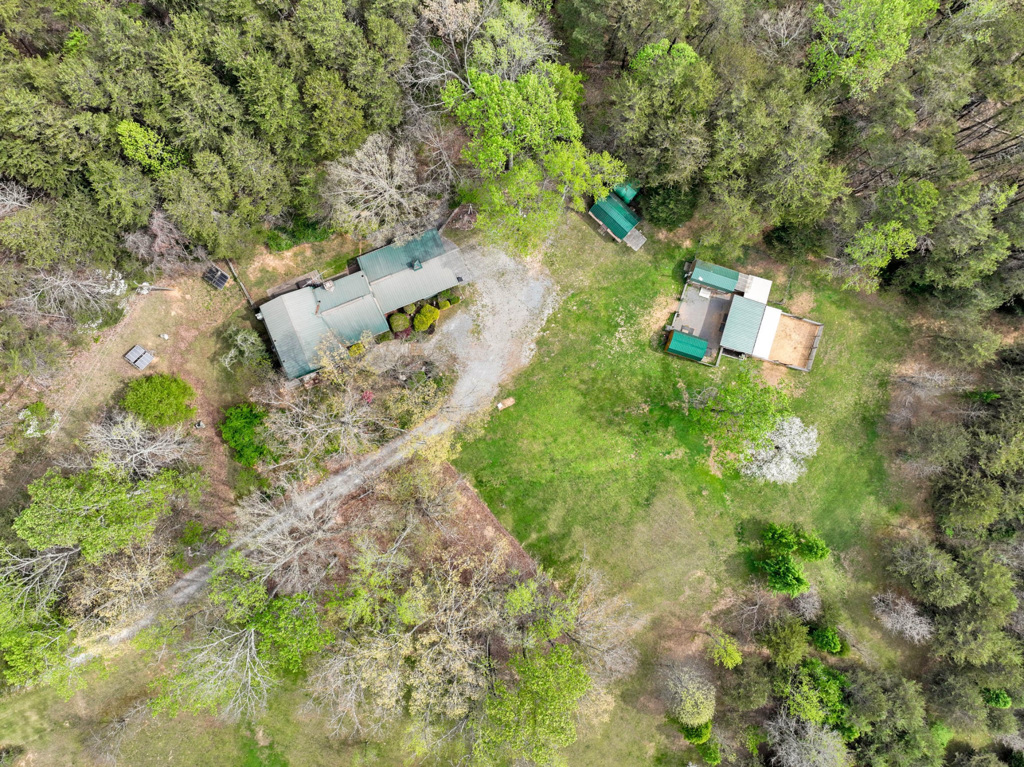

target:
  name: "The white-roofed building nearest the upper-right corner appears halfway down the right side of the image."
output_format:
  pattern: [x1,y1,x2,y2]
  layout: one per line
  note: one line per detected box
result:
[713,273,782,359]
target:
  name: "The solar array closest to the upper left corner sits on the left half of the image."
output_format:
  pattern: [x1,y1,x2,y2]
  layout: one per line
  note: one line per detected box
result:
[204,264,230,289]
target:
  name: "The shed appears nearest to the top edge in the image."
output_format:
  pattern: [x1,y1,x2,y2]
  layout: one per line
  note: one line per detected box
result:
[588,191,641,243]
